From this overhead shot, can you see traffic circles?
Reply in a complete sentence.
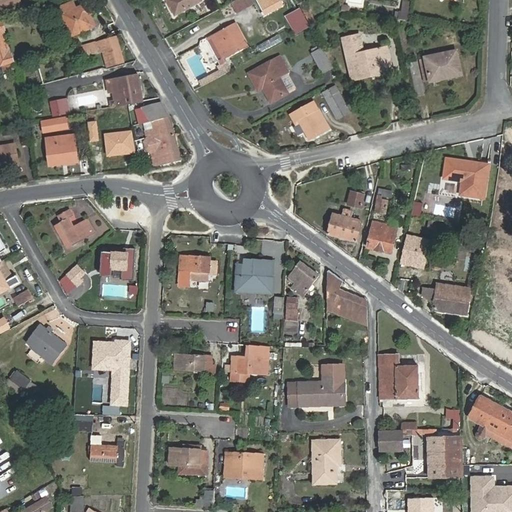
Yes, a traffic circle appears in the view.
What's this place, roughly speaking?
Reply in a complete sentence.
The area seen from above is a residential area.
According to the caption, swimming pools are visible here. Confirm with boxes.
[76,93,98,107]
[92,384,102,402]
[433,203,459,218]
[186,52,207,78]
[102,284,128,299]
[225,486,246,500]
[250,306,265,334]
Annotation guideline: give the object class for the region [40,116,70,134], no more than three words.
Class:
shed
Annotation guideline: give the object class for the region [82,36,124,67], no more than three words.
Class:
barn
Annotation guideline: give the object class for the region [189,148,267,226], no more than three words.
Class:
roundabout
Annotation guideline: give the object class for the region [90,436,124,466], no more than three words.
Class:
house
